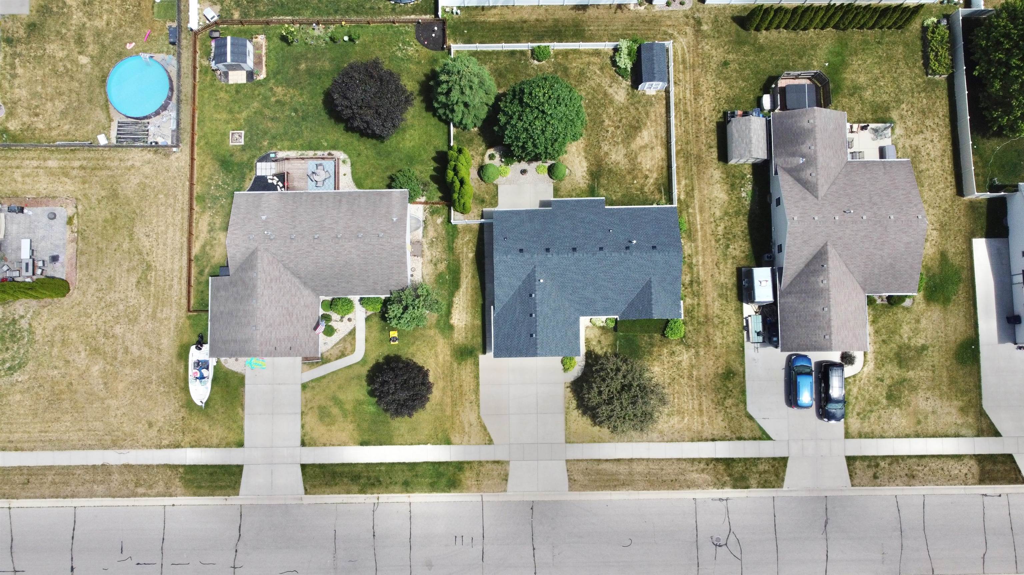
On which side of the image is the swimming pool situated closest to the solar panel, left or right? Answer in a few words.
left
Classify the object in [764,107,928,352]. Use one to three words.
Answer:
house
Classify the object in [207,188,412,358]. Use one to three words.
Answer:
house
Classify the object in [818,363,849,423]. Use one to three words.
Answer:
car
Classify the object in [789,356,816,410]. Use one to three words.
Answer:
car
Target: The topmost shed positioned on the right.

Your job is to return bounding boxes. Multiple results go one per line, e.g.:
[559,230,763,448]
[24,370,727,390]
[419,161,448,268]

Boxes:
[639,34,670,89]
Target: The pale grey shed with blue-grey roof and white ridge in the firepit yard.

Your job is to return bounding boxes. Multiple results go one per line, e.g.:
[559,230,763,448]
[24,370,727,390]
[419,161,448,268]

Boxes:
[209,32,250,69]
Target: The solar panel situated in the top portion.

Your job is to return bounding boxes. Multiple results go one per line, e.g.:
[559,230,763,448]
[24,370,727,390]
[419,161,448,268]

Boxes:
[116,120,149,144]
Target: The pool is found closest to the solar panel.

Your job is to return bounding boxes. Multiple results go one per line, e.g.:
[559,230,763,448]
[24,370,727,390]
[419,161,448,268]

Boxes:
[106,55,175,121]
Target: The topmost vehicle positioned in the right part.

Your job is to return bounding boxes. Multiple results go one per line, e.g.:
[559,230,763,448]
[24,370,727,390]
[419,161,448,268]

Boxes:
[737,264,774,315]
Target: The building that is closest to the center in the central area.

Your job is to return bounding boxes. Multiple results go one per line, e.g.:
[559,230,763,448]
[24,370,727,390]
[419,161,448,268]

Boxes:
[491,196,685,359]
